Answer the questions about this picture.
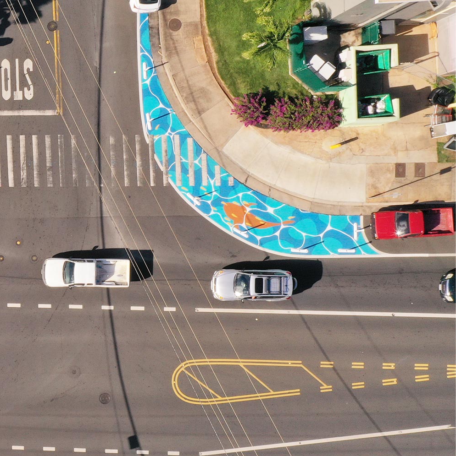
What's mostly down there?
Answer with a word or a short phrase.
paved ground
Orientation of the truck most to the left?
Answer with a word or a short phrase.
from left to right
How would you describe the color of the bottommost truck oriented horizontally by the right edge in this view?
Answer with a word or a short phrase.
red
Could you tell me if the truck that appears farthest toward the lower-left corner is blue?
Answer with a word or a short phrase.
No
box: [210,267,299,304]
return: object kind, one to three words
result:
car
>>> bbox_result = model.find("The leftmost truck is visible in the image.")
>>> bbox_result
[38,254,130,291]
